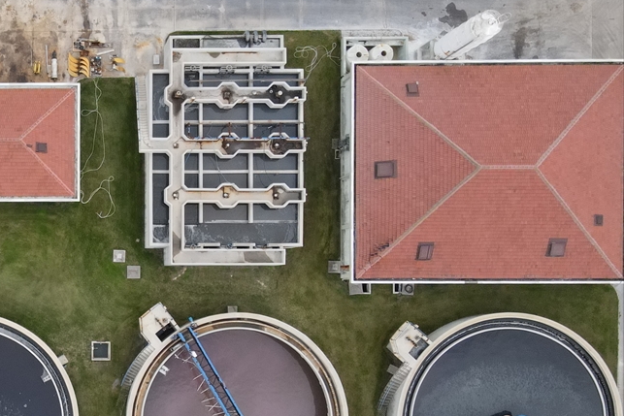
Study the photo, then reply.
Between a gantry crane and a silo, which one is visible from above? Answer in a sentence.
Looking from above, you can make out a silo.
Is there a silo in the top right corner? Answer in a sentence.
Yes, a silo is visible in the top right corner.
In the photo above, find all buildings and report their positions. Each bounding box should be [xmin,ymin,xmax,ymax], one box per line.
[332,61,624,283]
[0,84,81,203]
